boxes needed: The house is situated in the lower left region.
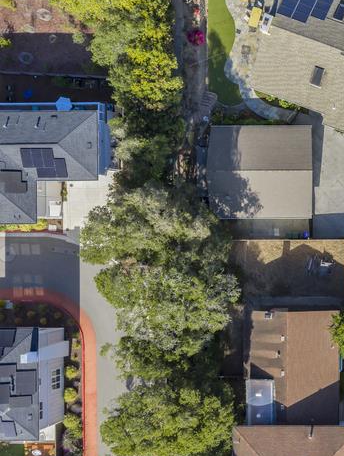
[0,323,70,441]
